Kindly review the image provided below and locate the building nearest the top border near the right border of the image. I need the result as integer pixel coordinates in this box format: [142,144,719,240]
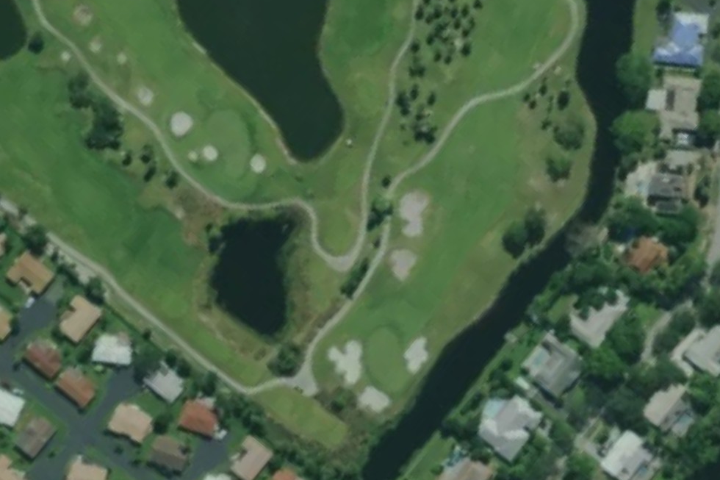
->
[655,13,710,68]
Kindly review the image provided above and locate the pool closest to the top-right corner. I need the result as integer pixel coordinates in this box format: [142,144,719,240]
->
[625,163,657,196]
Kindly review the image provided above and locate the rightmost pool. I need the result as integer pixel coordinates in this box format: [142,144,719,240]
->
[672,410,697,438]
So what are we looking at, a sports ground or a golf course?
golf course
